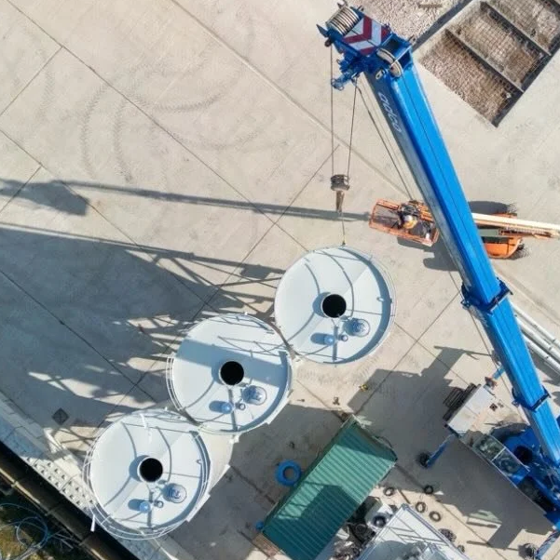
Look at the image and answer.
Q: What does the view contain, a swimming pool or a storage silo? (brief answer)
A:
storage silo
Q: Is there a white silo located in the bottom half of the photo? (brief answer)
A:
Yes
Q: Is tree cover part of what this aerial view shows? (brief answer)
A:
No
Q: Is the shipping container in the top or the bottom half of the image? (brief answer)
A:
bottom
